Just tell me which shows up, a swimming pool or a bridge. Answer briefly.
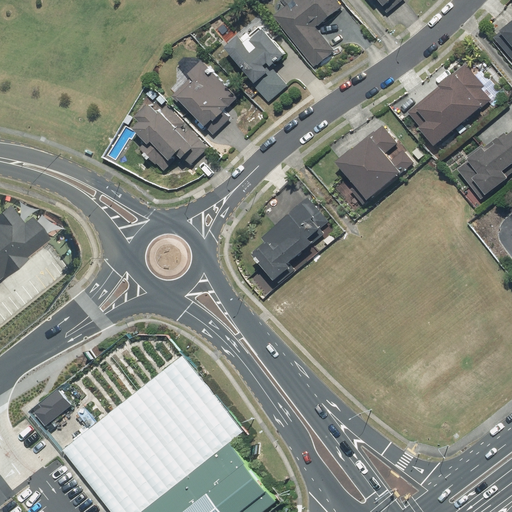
swimming pool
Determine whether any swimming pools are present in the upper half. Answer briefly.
Yes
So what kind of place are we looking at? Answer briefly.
residential area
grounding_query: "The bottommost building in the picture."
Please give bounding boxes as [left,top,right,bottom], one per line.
[140,432,282,512]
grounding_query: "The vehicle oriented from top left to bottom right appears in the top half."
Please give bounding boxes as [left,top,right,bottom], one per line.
[198,160,216,180]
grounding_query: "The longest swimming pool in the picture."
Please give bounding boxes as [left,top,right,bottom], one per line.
[106,125,137,162]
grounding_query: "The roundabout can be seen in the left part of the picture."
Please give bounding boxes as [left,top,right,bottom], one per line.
[145,234,192,280]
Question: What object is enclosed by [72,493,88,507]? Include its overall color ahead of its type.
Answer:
gray car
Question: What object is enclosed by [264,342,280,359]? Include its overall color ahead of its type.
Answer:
white vehicle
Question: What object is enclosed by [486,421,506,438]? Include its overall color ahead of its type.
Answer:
white vehicle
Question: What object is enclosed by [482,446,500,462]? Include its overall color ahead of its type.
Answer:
white car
